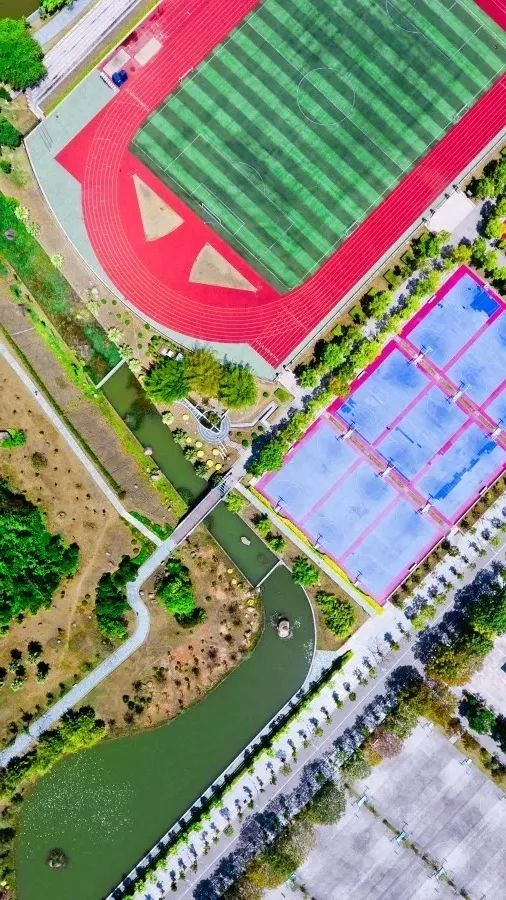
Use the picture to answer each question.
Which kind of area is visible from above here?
sports ground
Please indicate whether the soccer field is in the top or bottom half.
top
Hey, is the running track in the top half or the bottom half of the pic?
top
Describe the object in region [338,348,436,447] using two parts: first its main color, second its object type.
blue basketball court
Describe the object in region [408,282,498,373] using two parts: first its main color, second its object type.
blue basketball court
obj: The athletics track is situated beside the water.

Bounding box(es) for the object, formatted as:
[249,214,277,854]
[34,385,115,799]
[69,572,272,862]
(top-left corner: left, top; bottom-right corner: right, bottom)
[57,0,506,367]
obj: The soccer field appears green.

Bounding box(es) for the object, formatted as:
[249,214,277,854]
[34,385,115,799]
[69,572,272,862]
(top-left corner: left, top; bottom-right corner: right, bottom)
[129,0,506,294]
